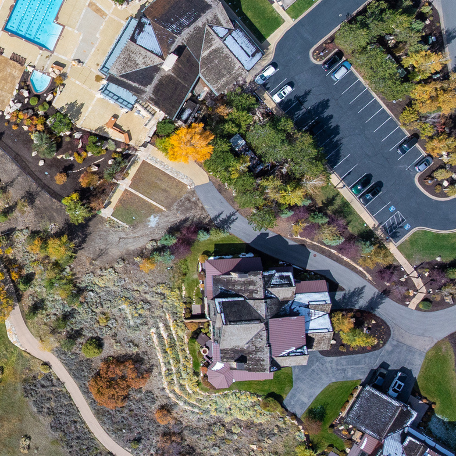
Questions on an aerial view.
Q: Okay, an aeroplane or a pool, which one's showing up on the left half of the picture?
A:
pool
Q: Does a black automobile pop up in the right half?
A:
Yes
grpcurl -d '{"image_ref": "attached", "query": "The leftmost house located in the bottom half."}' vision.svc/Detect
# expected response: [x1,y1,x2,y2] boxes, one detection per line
[181,257,334,389]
